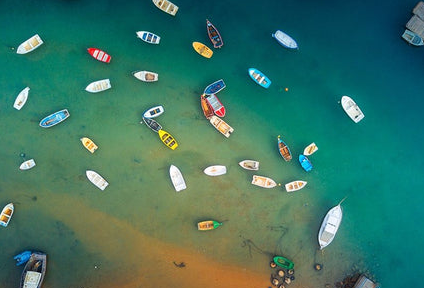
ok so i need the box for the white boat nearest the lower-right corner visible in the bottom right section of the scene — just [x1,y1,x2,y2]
[319,194,345,250]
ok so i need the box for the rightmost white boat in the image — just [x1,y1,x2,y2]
[342,96,366,123]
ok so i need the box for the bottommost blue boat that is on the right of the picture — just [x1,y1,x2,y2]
[299,155,313,173]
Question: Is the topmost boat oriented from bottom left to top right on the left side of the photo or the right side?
left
